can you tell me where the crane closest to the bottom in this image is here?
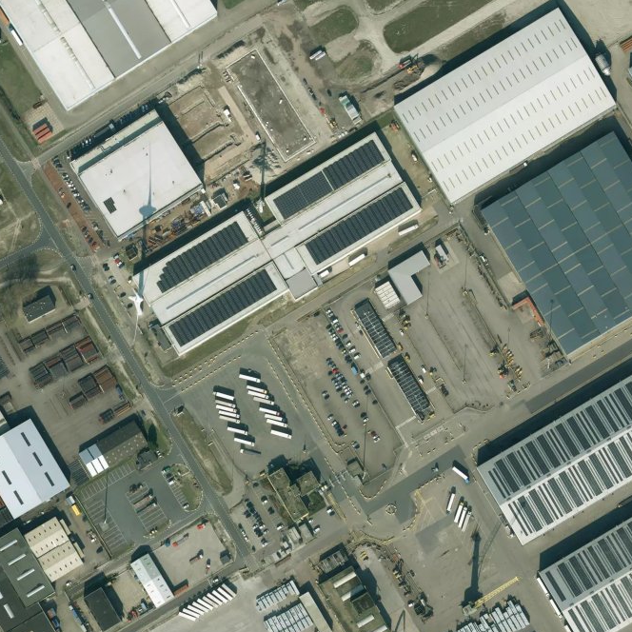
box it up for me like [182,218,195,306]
[458,581,521,620]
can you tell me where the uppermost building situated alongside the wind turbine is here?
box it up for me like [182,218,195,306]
[70,109,202,240]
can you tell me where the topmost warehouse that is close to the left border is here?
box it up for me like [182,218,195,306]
[0,0,218,113]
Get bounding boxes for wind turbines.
[125,259,145,326]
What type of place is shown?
industrial area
